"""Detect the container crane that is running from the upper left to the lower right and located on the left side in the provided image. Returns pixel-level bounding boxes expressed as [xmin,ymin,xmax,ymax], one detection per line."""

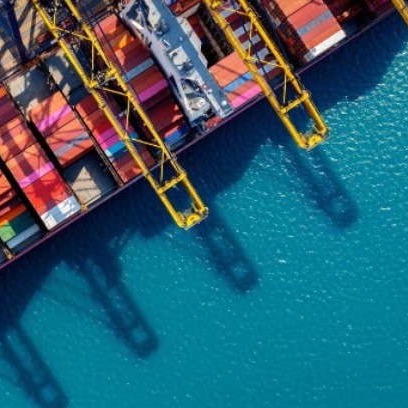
[0,0,214,232]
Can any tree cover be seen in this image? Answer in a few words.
No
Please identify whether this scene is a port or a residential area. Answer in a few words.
port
